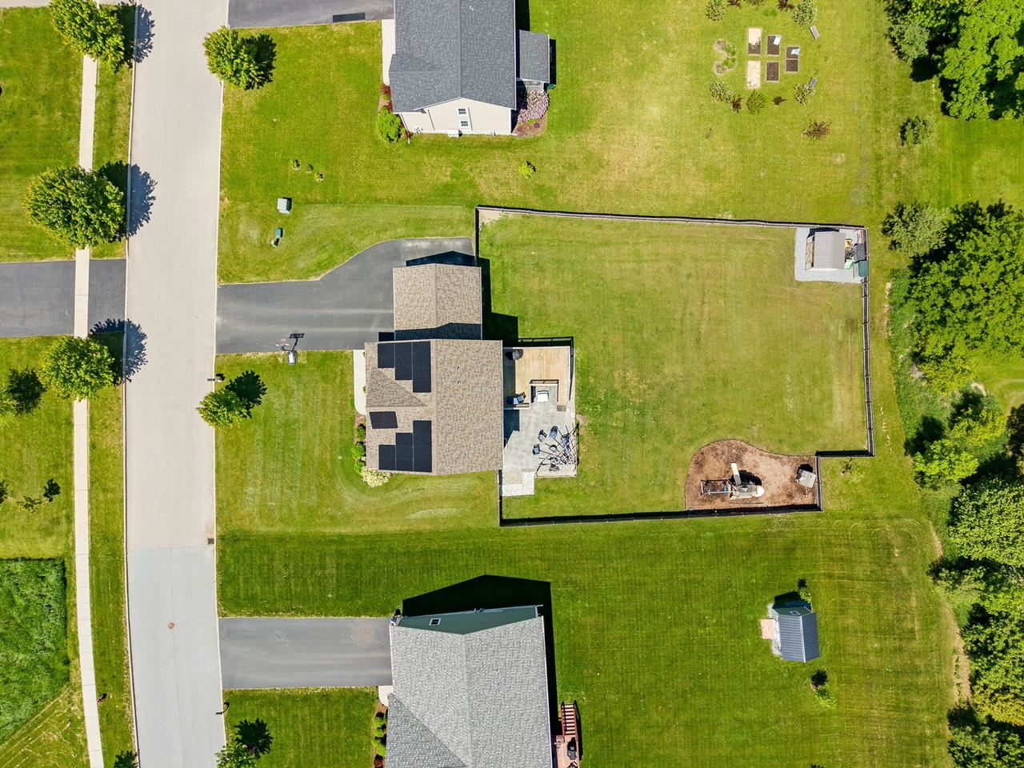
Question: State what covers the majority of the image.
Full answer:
The bulk of the photo consists of grass.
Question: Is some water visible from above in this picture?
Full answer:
No, no water is visible.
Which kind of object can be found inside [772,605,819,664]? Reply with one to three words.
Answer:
shed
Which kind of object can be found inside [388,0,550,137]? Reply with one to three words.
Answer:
house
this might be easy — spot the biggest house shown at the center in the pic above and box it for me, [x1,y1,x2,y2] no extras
[361,263,504,477]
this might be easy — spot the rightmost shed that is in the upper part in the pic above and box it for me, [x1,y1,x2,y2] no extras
[803,232,844,271]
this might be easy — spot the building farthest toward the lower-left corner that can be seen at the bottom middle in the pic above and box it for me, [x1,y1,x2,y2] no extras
[385,605,553,768]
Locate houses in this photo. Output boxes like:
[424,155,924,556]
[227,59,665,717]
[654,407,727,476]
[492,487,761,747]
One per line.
[388,0,550,137]
[361,263,504,477]
[385,605,553,768]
